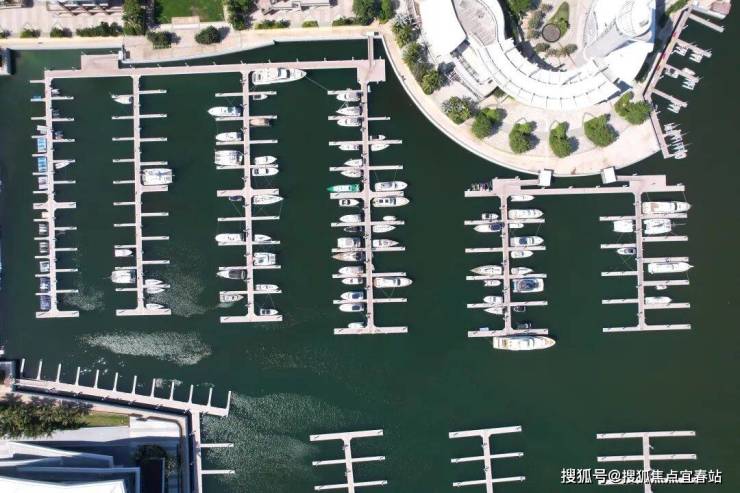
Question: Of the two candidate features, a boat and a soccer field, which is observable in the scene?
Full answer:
The one in the frame is a boat.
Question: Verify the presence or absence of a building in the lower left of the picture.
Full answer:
Yes, a building shows up in the lower left of the picture.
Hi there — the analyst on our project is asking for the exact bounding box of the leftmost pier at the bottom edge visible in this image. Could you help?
[16,359,236,493]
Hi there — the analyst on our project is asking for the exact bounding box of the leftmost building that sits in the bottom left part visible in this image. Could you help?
[0,435,142,493]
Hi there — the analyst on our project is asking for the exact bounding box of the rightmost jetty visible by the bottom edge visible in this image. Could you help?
[596,430,697,493]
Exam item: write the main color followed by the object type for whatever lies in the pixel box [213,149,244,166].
white boat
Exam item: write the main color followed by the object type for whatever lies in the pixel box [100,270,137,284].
white boat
